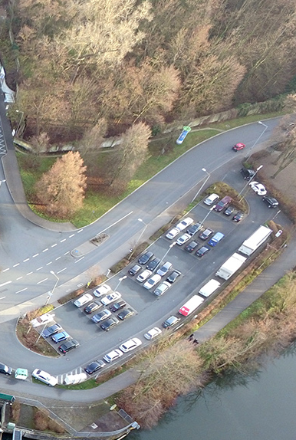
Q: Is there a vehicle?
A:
Yes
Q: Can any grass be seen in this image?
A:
Yes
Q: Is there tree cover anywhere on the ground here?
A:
Yes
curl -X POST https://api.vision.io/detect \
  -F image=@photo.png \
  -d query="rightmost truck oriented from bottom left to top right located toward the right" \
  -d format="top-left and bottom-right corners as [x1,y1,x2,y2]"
[240,227,272,252]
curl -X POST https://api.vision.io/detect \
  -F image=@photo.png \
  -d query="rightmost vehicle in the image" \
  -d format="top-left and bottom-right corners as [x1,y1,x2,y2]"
[260,195,282,209]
